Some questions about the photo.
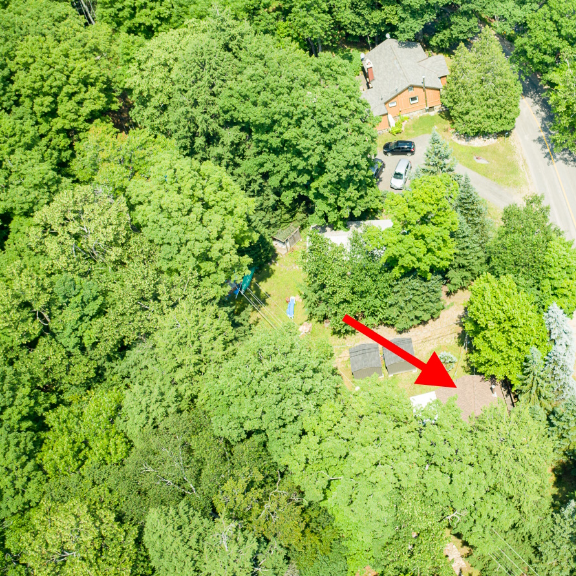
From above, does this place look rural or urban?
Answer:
rural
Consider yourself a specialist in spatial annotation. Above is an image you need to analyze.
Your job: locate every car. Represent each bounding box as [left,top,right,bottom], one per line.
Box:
[390,158,412,189]
[382,140,416,156]
[367,155,384,182]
